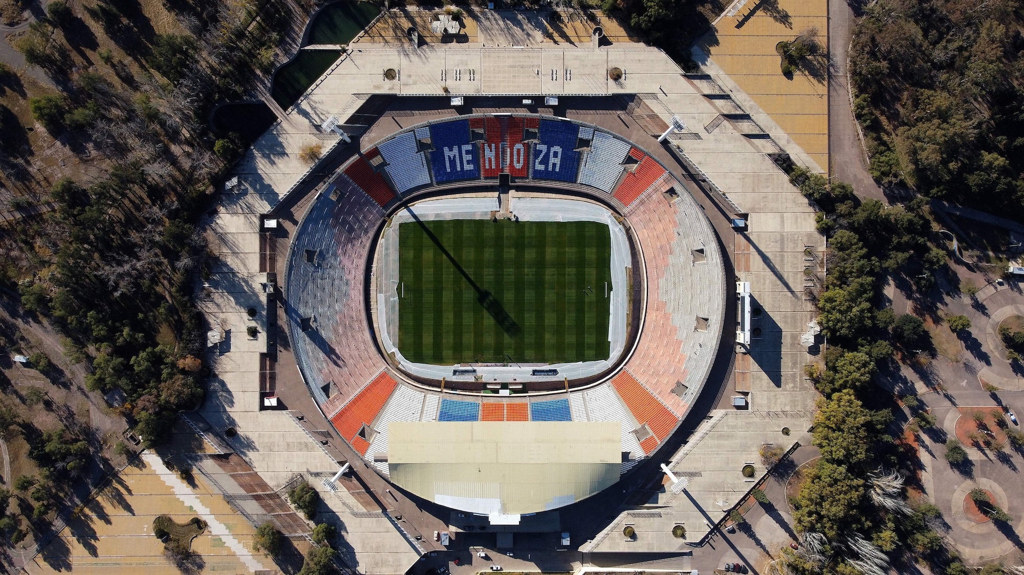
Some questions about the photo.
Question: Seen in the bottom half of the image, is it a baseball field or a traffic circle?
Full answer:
There is a traffic circle in the bottom half of the image.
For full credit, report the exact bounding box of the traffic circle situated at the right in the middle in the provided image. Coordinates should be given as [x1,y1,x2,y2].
[988,299,1024,362]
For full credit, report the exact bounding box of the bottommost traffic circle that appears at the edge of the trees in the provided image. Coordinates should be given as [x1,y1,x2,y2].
[952,479,1007,534]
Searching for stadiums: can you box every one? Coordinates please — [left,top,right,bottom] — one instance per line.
[282,111,728,548]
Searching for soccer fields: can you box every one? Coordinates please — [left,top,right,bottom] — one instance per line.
[398,218,612,366]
